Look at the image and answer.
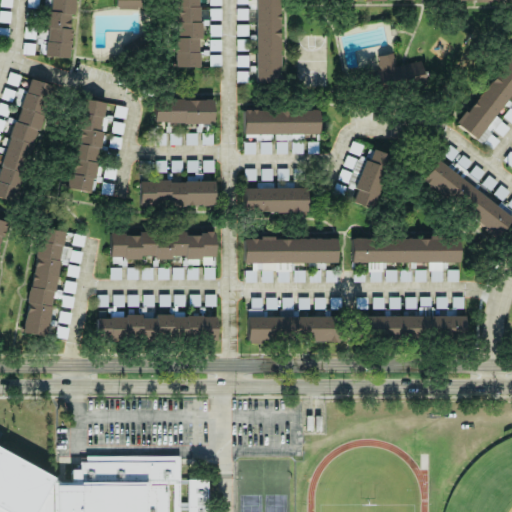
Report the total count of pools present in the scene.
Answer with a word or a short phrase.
two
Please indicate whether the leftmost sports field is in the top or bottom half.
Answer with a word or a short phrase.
bottom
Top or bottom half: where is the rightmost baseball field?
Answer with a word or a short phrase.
bottom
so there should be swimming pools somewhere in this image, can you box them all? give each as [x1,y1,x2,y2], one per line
[92,9,144,62]
[336,22,394,73]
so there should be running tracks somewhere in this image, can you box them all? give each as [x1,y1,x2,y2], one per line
[308,439,429,512]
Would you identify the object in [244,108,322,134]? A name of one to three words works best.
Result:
building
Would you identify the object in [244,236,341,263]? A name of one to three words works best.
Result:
building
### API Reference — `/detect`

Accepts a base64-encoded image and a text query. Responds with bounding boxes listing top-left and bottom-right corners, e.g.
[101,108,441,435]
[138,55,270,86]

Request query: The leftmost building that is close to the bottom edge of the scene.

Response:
[0,446,58,512]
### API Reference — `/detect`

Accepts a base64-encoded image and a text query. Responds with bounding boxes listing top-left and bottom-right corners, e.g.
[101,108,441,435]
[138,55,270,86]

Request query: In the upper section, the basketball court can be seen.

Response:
[299,34,327,87]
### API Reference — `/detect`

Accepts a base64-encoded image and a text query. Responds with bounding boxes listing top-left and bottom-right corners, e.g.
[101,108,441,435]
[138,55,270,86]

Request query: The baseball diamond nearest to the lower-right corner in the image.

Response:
[446,438,512,512]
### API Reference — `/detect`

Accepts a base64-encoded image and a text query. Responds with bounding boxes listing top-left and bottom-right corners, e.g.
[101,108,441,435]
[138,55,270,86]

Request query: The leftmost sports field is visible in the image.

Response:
[316,446,420,512]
